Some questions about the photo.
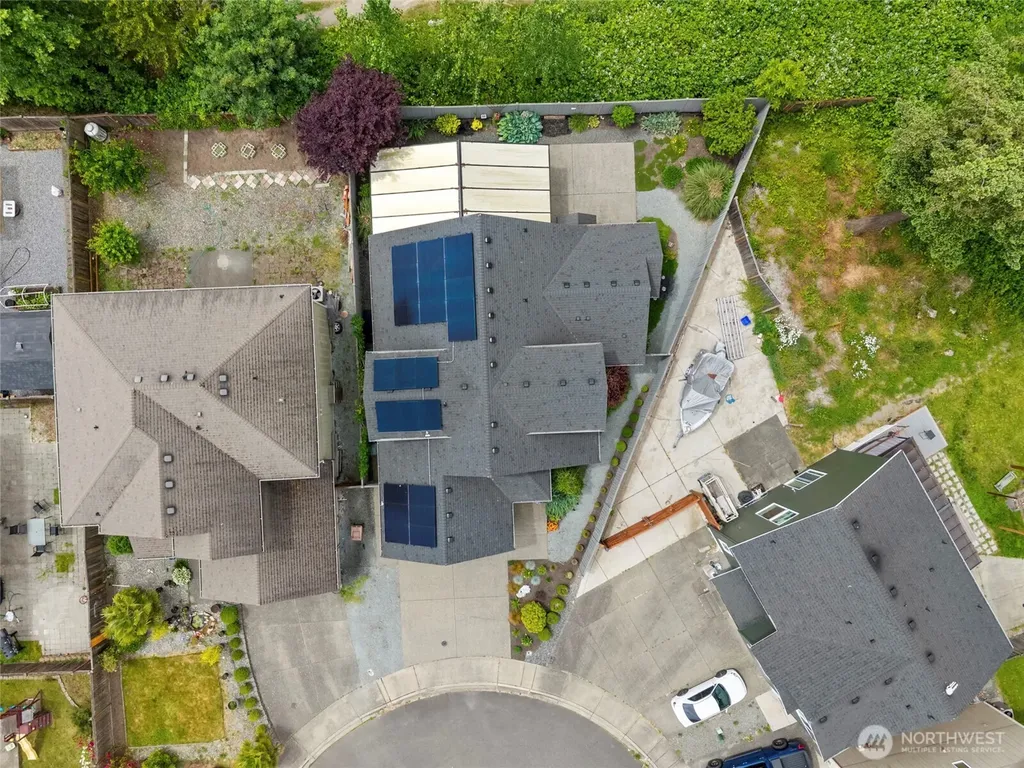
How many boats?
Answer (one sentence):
Only 1 boat is visible.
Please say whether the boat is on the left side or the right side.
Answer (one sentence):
The boat sits on the right side.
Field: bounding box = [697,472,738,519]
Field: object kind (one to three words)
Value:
trailer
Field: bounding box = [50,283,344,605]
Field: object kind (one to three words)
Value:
house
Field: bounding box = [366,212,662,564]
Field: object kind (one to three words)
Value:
house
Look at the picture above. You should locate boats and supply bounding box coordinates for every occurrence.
[678,342,738,435]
